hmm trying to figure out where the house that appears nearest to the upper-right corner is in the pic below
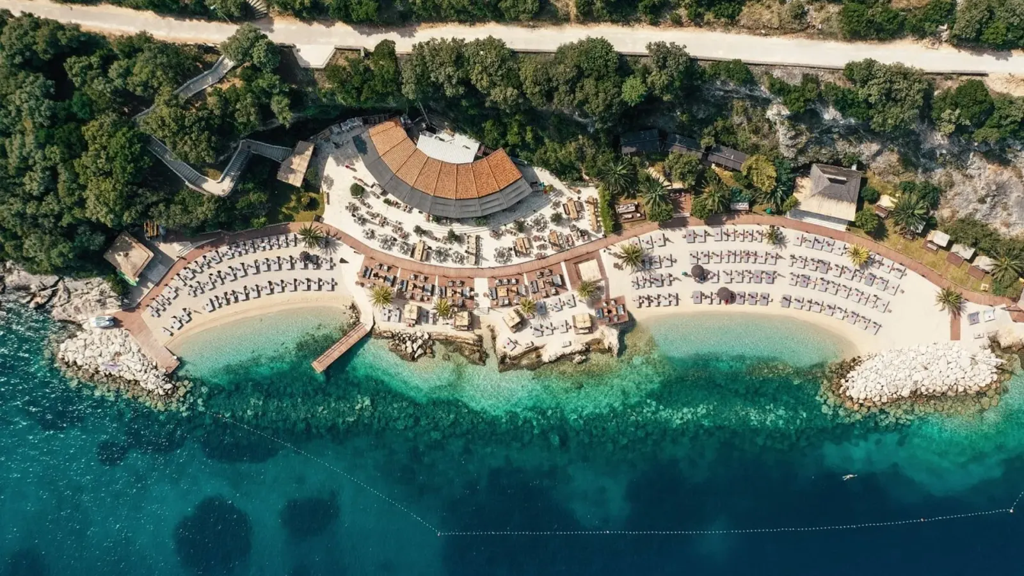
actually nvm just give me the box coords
[783,164,862,231]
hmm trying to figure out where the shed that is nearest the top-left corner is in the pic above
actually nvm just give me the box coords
[104,231,157,282]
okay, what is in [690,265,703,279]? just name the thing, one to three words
umbrella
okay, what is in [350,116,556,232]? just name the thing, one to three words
building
